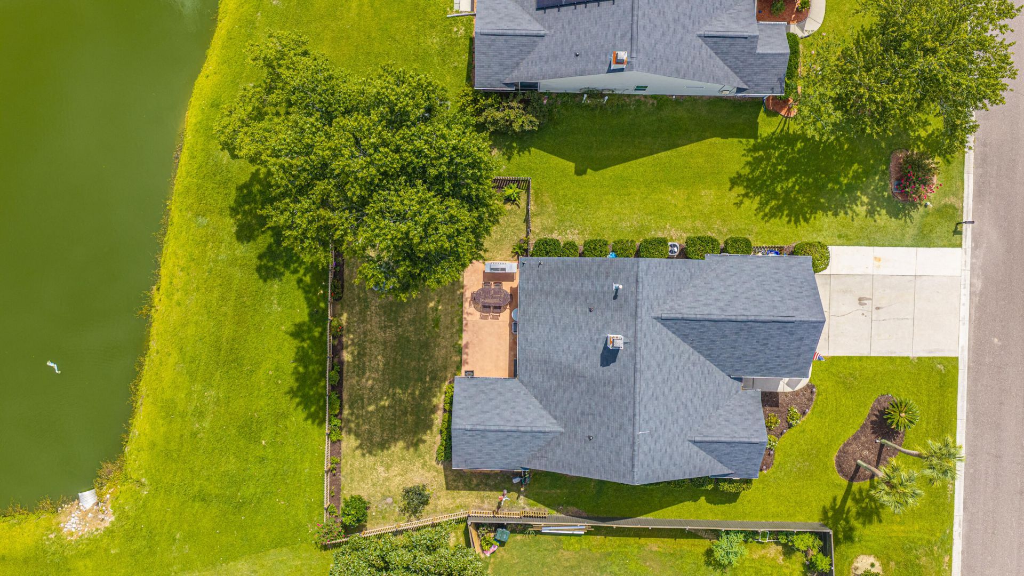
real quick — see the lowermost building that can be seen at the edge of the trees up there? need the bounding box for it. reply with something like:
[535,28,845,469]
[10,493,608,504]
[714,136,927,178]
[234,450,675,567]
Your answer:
[451,253,827,485]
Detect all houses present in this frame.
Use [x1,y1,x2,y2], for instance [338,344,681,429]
[451,253,827,485]
[474,0,791,100]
